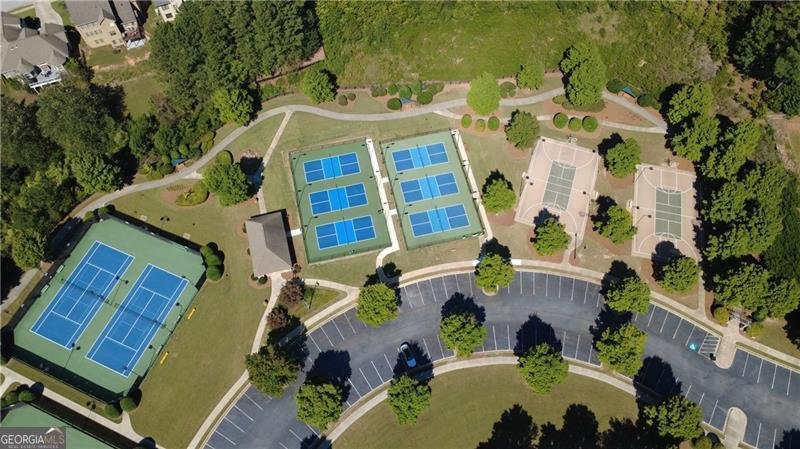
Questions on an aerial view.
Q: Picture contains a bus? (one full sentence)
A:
No, the photo shows no bus.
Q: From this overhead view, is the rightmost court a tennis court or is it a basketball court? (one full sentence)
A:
What you see as the rightmost court is a basketball court.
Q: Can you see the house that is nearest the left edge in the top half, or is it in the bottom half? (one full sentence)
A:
It is in the top half that the house that is nearest the left edge appears.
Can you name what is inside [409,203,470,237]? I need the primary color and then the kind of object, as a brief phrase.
blue sports court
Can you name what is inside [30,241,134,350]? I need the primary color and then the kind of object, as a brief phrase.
blue tennis court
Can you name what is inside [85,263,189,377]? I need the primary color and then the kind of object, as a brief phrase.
blue tennis court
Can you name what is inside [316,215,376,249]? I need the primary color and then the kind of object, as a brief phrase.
blue sports court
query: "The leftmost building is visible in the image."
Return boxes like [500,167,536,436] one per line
[0,15,77,89]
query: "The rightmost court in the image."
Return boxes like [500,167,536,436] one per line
[628,162,704,271]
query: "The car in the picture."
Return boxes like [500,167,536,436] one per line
[401,345,416,365]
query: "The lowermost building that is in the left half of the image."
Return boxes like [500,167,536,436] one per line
[245,212,293,277]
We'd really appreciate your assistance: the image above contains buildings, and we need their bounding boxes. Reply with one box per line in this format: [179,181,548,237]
[245,212,293,277]
[0,15,77,89]
[75,0,156,56]
[153,0,184,23]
